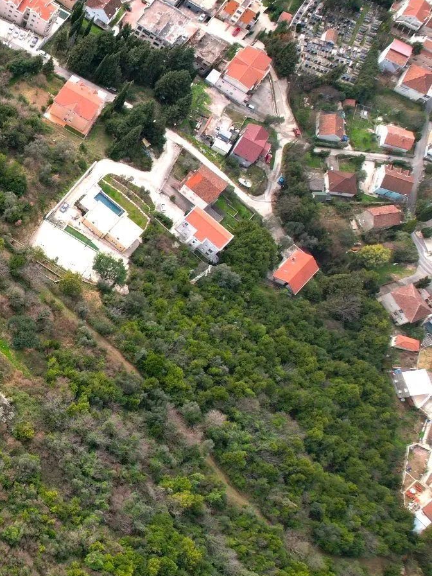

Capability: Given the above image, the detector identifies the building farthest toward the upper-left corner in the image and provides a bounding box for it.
[0,0,63,36]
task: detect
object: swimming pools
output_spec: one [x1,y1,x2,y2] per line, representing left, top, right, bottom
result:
[94,191,126,218]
